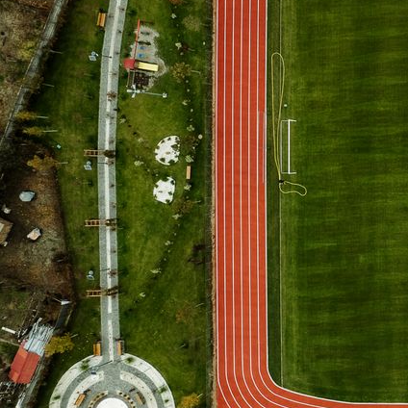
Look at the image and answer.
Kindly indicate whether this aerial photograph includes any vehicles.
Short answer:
No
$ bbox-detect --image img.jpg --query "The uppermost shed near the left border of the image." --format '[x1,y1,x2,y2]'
[0,218,23,242]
